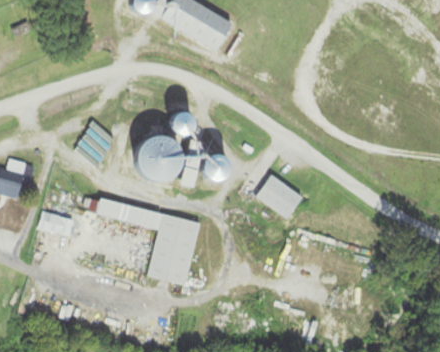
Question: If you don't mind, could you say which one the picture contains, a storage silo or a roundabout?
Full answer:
The one in the frame is a storage silo.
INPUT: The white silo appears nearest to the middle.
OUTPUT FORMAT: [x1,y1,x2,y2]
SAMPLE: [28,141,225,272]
[200,154,232,184]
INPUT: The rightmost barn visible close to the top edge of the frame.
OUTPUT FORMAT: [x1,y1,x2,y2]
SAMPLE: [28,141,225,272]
[164,0,232,50]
